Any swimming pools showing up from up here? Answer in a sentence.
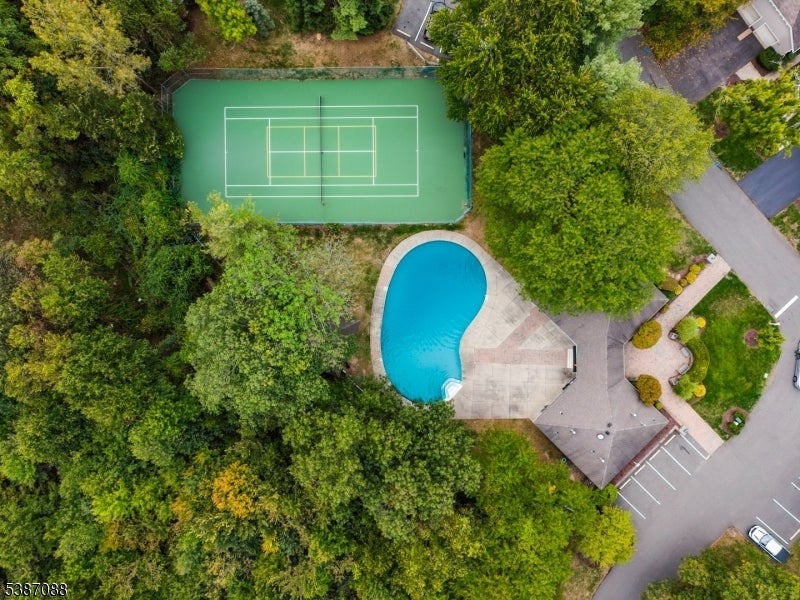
Yes, this view includes a swimming pool.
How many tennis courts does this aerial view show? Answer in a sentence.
Just 1 tennis court appears in this view.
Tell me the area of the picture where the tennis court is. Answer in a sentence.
The tennis court is in the top part of the image.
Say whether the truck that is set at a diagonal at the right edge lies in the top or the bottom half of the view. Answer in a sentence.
Seen from above, the truck that is set at a diagonal at the right edge lies in the bottom half of the view.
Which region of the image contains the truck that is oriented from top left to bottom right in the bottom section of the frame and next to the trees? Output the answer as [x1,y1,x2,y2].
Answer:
[745,523,792,566]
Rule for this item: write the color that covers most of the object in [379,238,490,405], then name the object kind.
blue swimming pool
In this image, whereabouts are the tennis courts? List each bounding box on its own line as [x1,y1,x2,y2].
[173,79,466,223]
